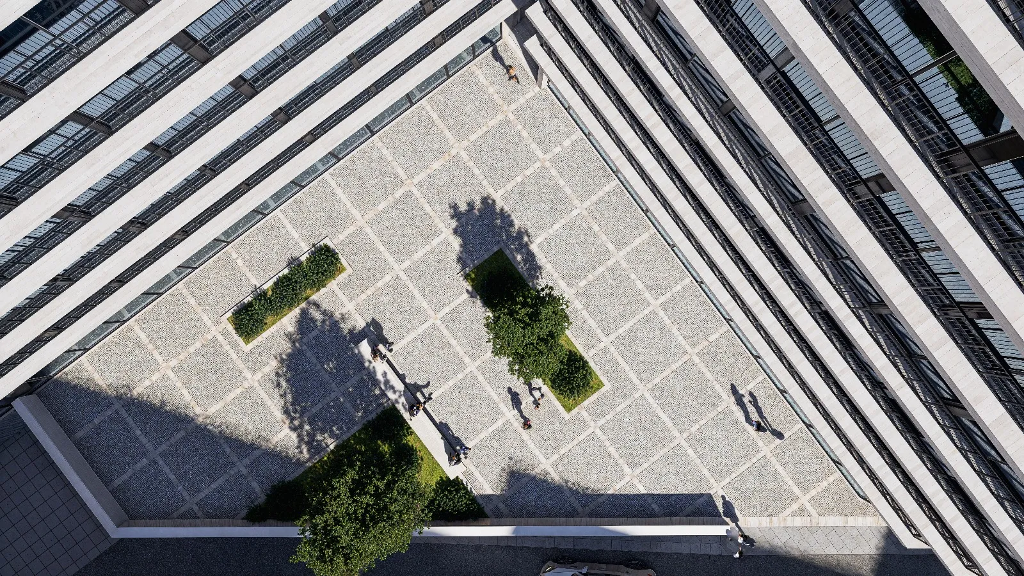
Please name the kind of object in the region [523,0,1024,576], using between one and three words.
building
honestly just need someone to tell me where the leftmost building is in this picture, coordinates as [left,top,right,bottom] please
[0,0,518,417]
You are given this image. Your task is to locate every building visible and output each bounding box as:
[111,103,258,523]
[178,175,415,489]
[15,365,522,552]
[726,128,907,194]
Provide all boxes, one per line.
[0,0,518,417]
[523,0,1024,576]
